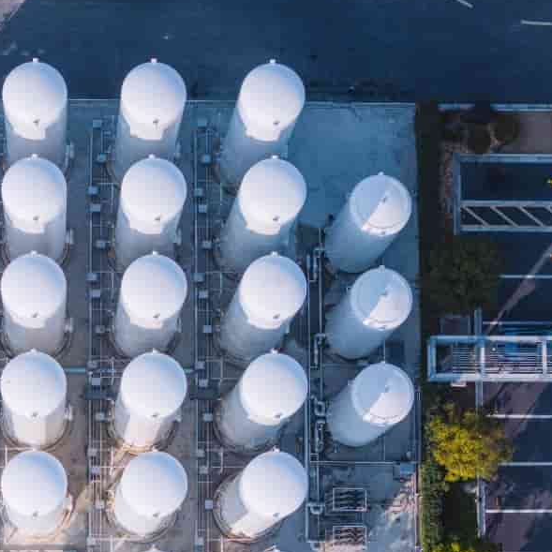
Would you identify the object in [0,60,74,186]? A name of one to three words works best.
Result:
storage tank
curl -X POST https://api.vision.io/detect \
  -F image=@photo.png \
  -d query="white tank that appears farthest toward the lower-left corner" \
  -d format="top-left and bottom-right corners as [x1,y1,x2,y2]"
[0,447,73,552]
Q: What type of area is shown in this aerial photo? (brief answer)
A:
industrial area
